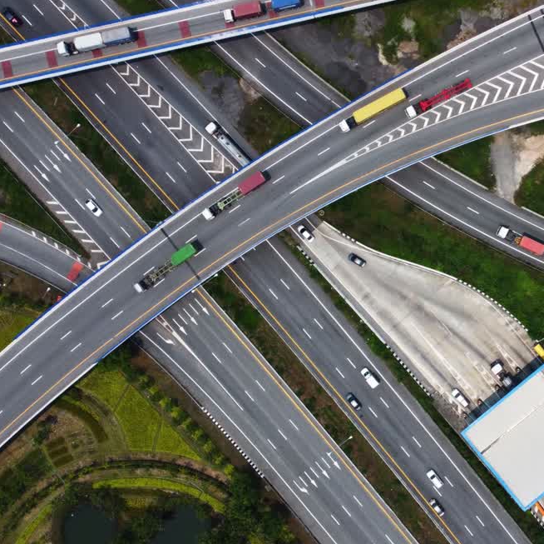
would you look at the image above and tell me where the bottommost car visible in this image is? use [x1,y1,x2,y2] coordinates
[429,497,446,516]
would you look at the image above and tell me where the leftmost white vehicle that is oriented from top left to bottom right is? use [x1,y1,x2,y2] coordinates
[83,199,102,217]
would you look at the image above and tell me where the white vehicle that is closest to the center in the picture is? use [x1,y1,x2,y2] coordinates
[297,224,315,242]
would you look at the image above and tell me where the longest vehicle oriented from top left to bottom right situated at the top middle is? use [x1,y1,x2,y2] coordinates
[201,121,251,171]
